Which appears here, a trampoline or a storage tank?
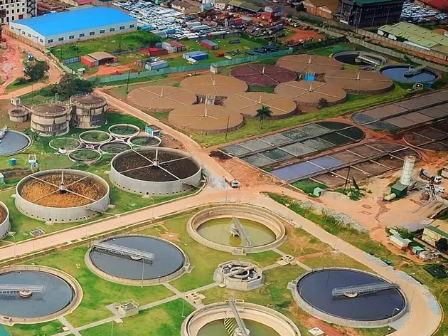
storage tank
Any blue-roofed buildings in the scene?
Yes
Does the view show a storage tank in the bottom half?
Yes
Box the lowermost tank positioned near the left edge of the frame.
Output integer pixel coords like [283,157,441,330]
[0,265,82,332]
